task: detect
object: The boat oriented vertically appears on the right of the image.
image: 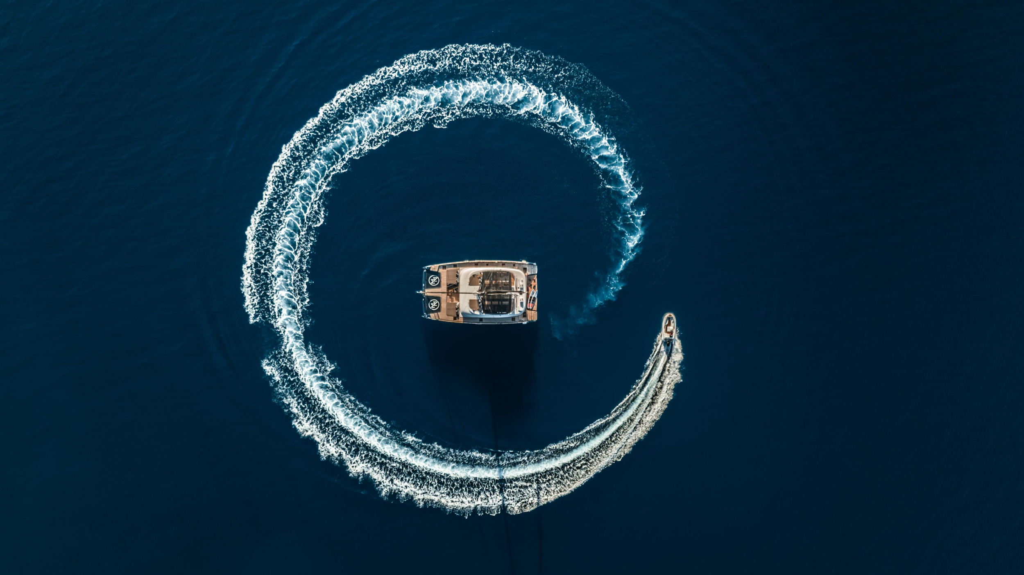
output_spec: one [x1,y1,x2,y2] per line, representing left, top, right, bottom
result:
[662,313,676,346]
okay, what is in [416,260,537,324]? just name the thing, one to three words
boat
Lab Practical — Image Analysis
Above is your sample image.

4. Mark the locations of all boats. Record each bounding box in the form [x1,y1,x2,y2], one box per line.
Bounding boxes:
[662,313,676,346]
[416,260,537,324]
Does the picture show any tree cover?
No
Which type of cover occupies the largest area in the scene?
water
